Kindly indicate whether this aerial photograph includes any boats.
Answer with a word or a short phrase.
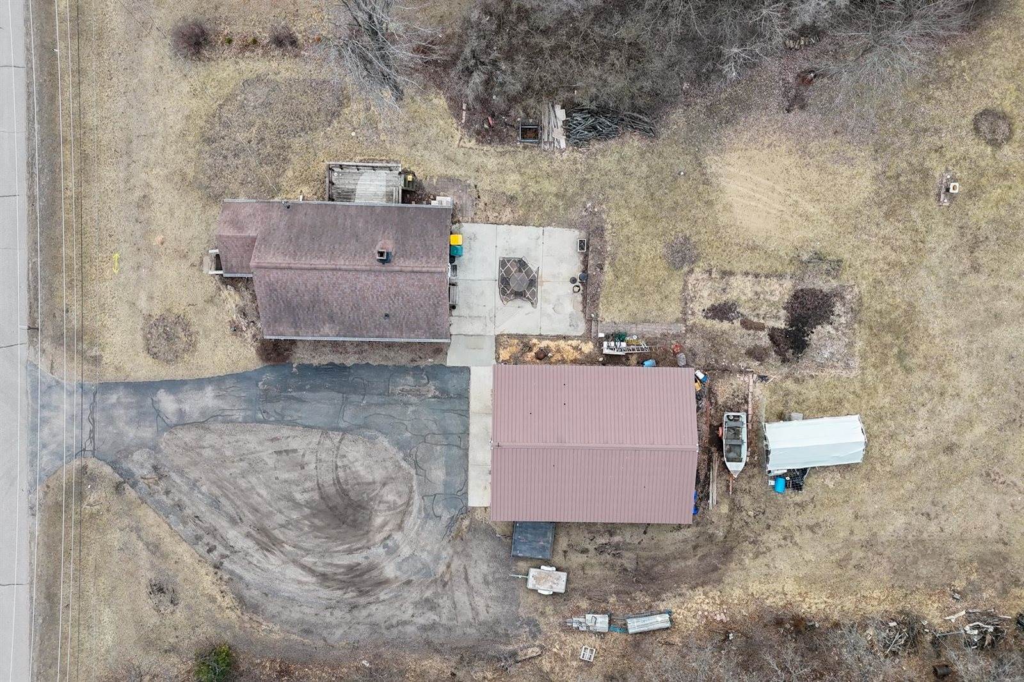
Yes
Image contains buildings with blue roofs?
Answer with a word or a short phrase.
No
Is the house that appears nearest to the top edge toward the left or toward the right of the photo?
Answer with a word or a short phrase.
left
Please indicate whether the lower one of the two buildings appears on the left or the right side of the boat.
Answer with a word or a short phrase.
on its left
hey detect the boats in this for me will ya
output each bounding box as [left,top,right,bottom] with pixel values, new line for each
[722,411,746,478]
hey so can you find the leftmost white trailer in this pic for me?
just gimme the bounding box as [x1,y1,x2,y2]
[509,563,567,597]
